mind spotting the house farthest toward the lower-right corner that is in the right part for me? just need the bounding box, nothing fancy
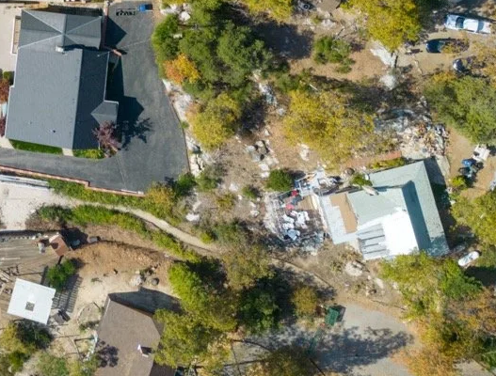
[309,155,449,260]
